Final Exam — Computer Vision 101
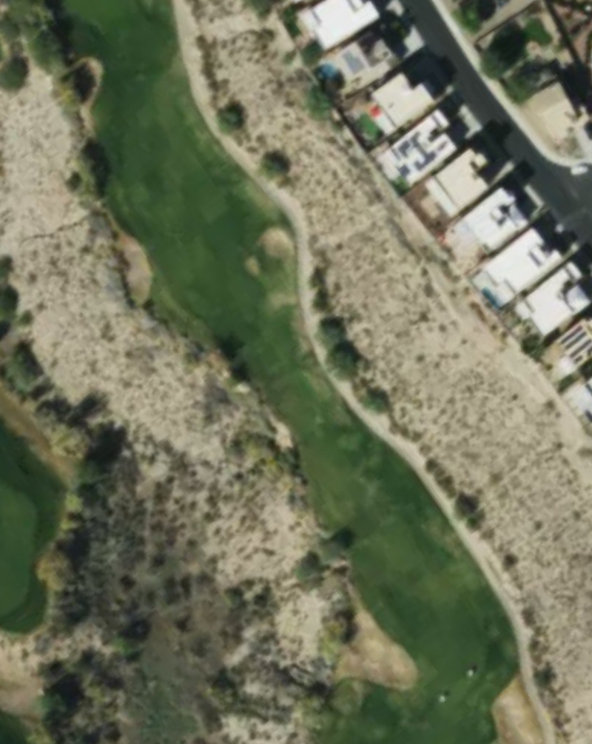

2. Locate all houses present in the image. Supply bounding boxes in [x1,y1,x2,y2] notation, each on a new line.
[426,148,489,215]
[530,82,577,140]
[371,72,435,133]
[341,38,392,94]
[487,227,563,305]
[461,186,528,255]
[297,0,379,49]
[516,263,591,337]
[558,319,592,374]
[377,109,457,185]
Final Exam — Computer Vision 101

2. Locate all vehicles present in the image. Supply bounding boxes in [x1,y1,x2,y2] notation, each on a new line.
[438,694,444,704]
[570,165,587,174]
[467,668,473,677]
[584,121,592,140]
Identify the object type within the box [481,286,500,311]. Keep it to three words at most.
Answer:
swimming pool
